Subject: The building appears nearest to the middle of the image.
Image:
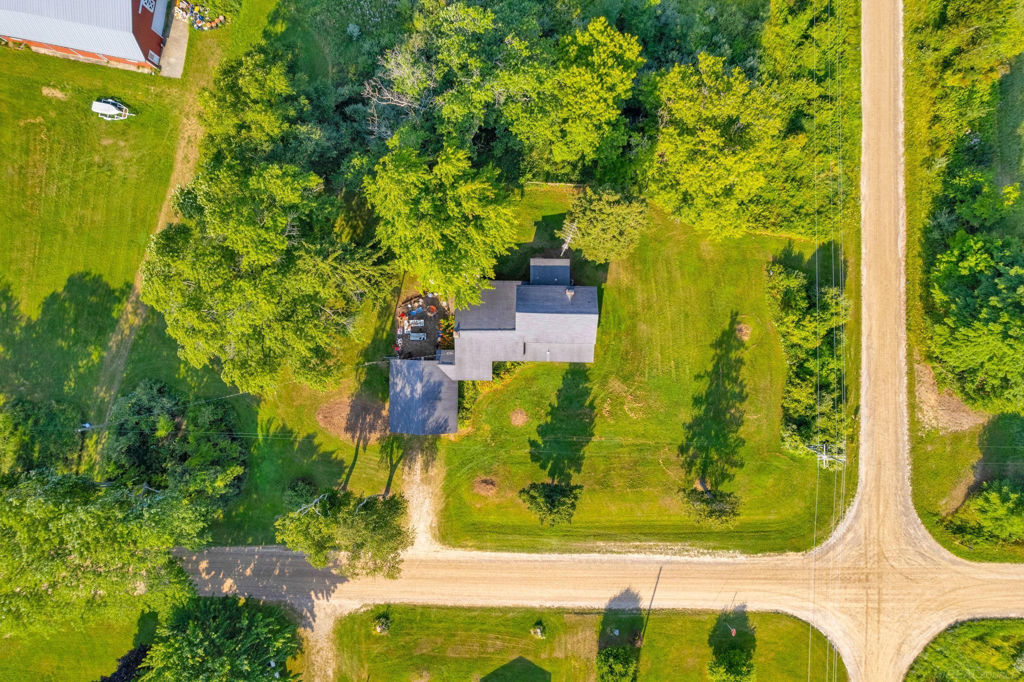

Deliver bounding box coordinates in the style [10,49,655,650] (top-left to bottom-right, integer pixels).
[437,258,600,380]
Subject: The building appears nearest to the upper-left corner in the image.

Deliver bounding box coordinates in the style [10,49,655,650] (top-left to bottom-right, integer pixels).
[0,0,172,73]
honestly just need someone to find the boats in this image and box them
[87,98,119,113]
